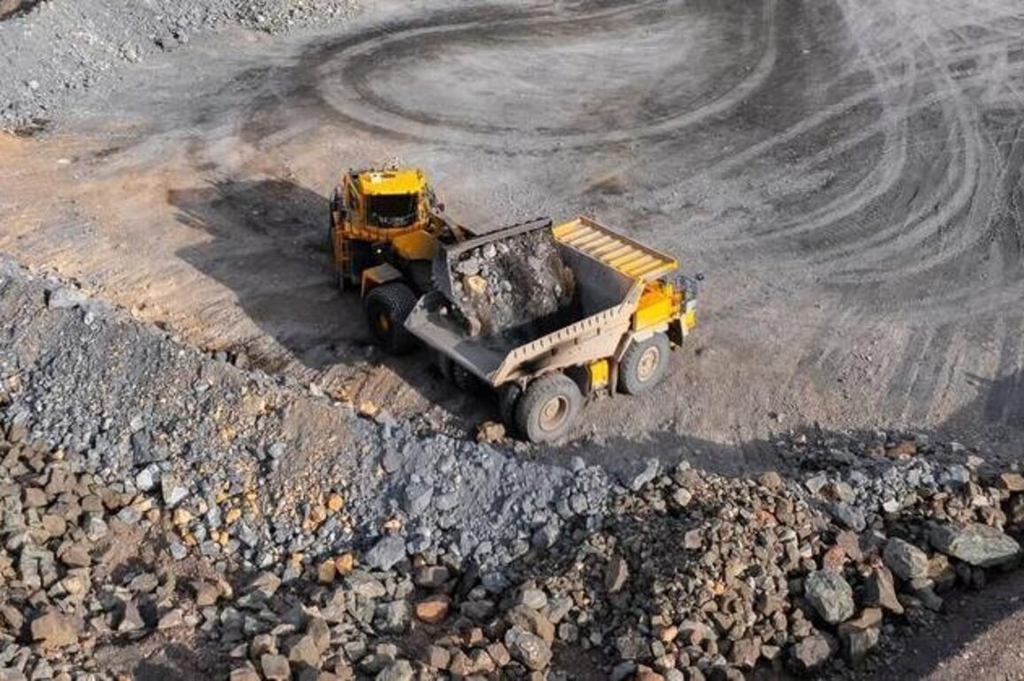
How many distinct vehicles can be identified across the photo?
2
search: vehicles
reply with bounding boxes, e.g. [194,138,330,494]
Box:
[404,212,705,446]
[338,163,585,355]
